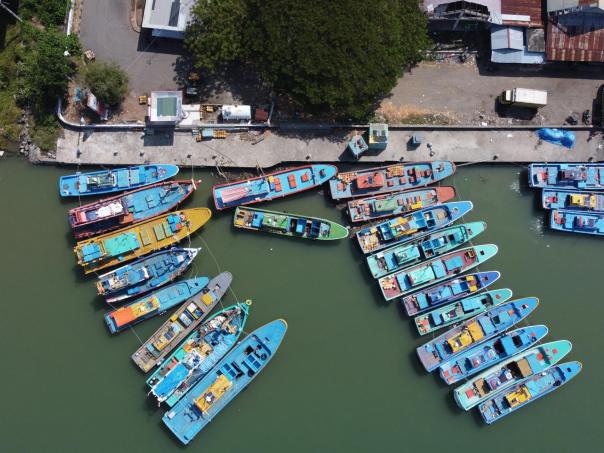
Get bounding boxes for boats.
[416,297,540,372]
[439,326,549,387]
[452,341,573,413]
[539,189,604,215]
[526,165,604,191]
[234,206,350,241]
[104,278,210,332]
[67,179,203,238]
[413,289,514,336]
[132,274,232,372]
[477,361,583,425]
[59,165,181,196]
[401,271,502,316]
[356,202,474,255]
[547,210,604,236]
[367,222,488,278]
[71,206,212,272]
[347,185,457,223]
[378,243,500,303]
[329,162,458,202]
[161,318,289,444]
[212,166,339,209]
[94,249,199,299]
[147,303,247,404]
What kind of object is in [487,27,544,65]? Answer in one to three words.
shed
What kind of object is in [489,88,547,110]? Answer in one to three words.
truck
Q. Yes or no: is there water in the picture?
Yes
